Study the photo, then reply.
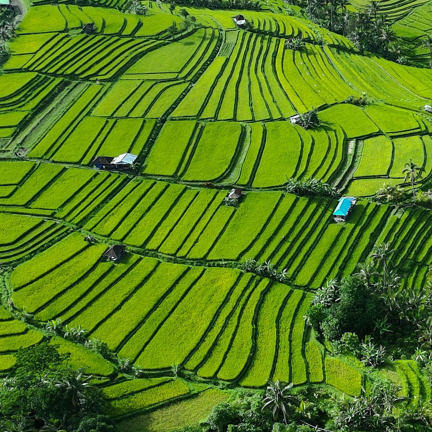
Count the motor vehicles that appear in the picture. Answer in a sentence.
The photo contains no motor vehicles.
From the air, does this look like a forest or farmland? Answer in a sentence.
The picture captures farmland.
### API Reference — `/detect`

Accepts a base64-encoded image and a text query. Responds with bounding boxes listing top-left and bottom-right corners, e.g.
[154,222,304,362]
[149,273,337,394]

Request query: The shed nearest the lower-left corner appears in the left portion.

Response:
[101,245,130,263]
